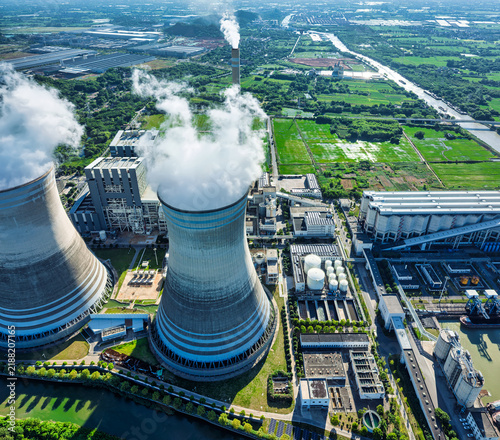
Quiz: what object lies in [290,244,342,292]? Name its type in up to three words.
building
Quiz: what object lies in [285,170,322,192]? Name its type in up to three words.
building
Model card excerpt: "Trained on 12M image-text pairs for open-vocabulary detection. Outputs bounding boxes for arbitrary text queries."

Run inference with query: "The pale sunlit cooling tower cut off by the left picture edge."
[0,154,117,348]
